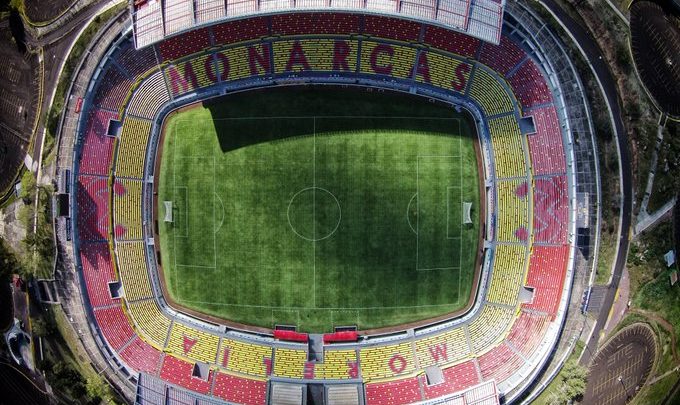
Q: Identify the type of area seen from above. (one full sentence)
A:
The area seen from above is a sports ground.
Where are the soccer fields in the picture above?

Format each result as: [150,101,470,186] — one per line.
[153,84,485,339]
